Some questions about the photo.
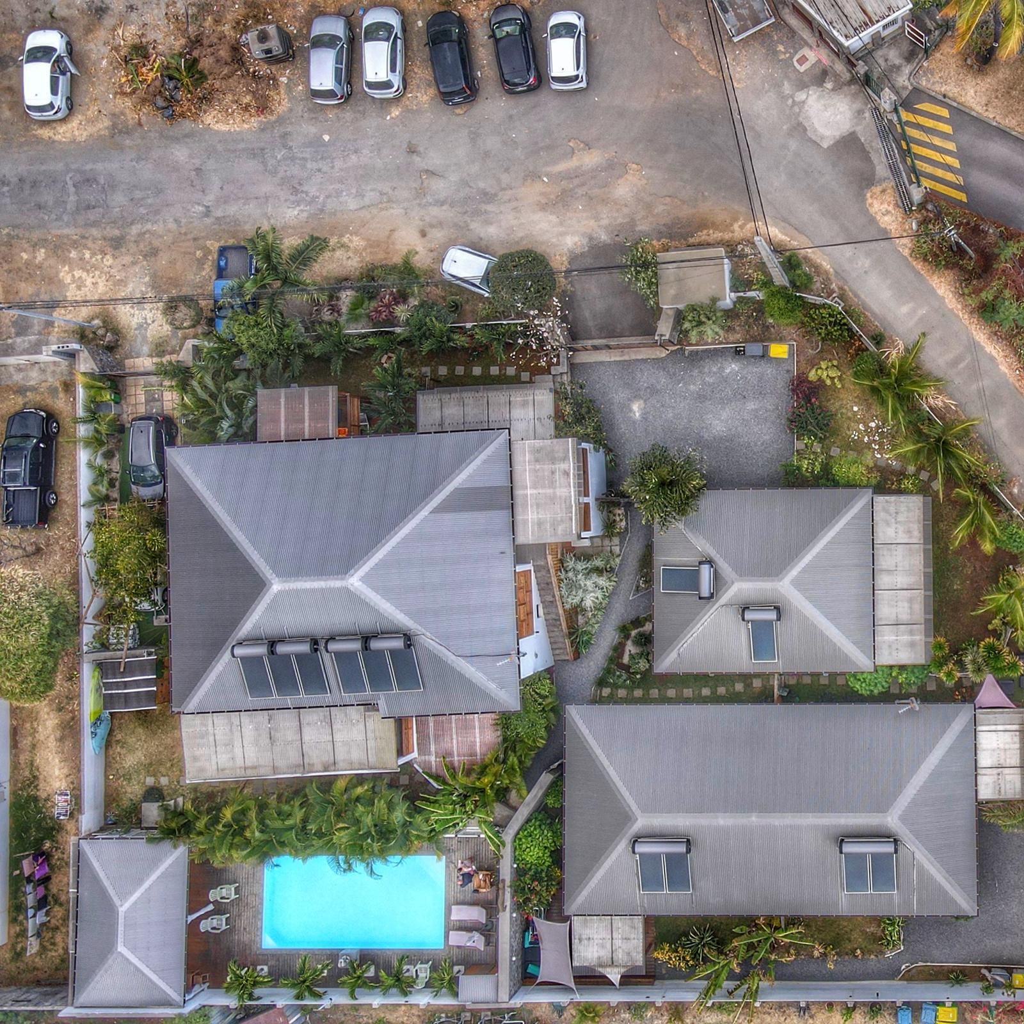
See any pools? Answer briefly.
Yes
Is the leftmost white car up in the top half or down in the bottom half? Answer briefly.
top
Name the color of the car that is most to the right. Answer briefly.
white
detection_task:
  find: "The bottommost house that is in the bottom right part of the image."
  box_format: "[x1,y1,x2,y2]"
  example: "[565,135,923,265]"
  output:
[561,701,1024,975]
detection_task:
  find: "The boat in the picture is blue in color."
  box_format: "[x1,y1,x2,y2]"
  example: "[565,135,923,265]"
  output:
[91,711,108,756]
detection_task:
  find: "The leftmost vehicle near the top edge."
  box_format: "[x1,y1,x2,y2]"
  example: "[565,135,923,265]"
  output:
[21,32,90,122]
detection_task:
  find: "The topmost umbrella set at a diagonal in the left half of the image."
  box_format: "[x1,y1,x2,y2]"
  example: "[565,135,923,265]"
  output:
[191,904,213,924]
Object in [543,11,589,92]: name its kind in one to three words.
car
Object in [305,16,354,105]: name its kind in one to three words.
car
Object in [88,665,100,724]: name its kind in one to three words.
boat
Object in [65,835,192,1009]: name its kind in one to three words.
building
